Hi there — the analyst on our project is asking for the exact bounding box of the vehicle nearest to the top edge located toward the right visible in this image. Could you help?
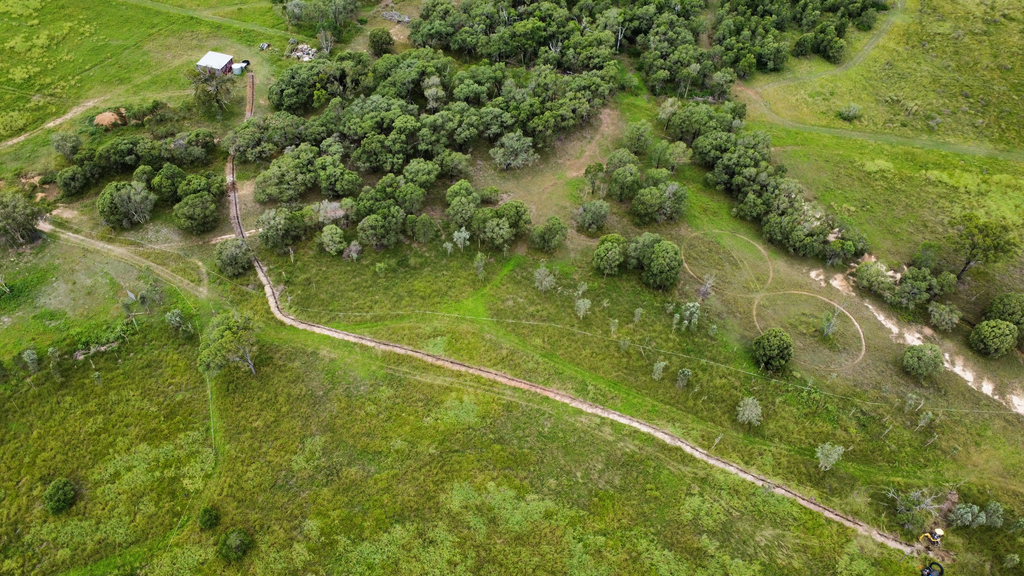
[918,528,948,551]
